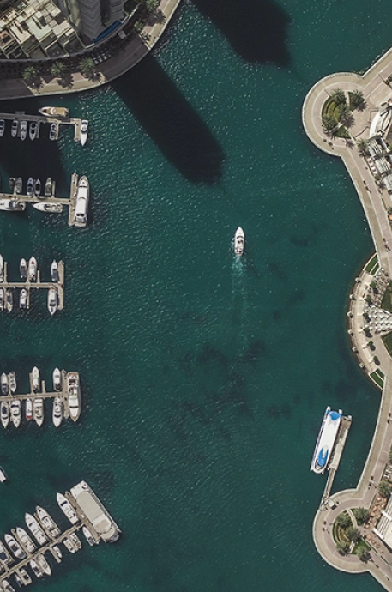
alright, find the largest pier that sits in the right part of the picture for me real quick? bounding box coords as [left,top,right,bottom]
[330,416,351,469]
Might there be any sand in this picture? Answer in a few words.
No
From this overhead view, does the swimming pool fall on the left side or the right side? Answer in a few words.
left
